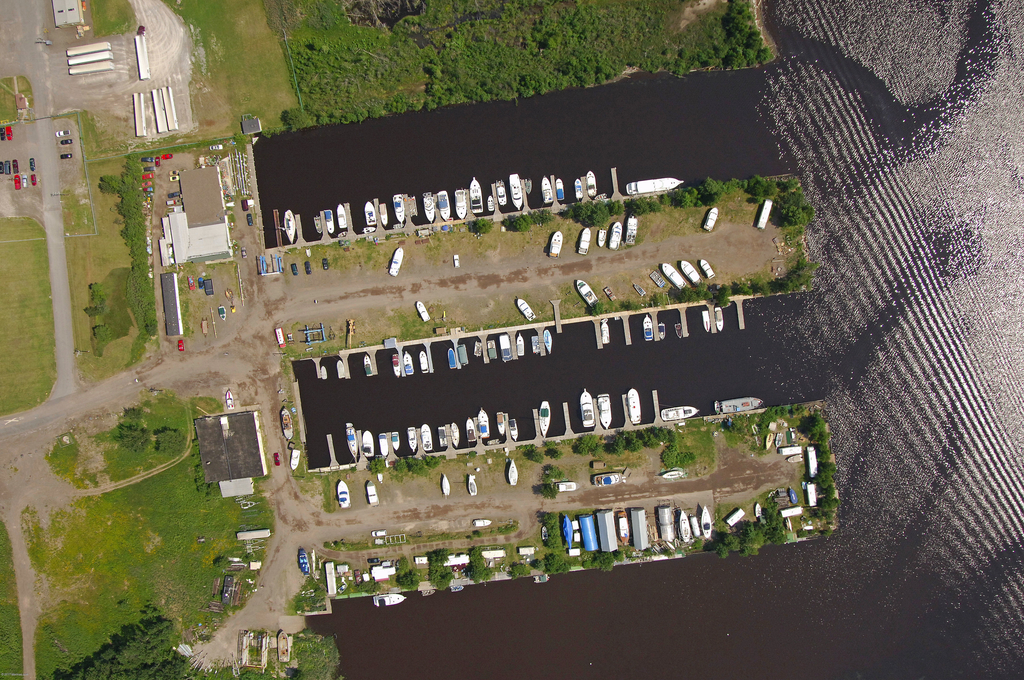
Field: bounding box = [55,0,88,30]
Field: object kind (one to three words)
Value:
building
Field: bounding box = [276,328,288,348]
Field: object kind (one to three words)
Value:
vehicle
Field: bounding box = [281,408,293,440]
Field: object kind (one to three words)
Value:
boat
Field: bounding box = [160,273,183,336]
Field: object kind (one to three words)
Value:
building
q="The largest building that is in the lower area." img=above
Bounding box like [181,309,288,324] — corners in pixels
[195,411,268,483]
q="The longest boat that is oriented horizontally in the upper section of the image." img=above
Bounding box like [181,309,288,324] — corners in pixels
[626,178,680,195]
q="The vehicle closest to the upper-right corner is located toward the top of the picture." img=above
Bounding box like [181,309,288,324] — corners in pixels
[756,200,772,230]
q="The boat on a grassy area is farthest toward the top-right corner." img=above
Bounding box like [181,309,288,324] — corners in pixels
[704,208,719,232]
